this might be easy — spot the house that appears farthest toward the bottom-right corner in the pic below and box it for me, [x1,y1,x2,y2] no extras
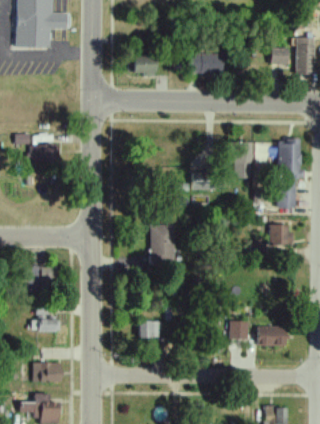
[264,405,288,424]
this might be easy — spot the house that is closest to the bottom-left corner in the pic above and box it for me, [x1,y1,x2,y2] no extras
[20,393,62,424]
